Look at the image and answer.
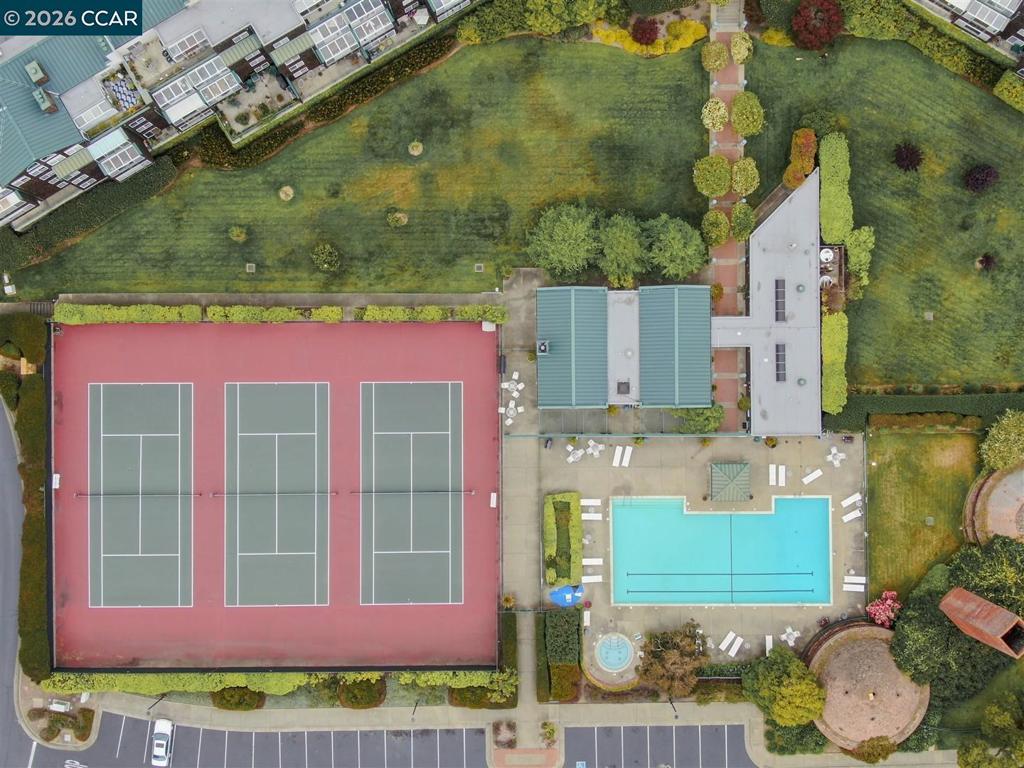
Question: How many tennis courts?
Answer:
3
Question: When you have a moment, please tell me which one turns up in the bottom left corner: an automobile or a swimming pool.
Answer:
automobile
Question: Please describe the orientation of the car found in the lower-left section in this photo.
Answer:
up and down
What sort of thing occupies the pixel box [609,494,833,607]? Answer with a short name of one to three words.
swimming pool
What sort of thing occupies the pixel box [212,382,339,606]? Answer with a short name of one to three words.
tennis court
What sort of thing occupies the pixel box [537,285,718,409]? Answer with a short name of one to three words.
building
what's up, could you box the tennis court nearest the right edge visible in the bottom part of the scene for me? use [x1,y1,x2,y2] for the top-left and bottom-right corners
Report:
[349,381,474,605]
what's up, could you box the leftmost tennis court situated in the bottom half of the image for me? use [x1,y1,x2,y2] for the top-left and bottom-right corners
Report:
[74,383,203,607]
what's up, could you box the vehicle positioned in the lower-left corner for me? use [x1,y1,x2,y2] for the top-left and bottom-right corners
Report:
[151,718,175,766]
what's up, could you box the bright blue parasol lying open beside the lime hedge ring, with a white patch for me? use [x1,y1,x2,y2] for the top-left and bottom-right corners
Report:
[550,585,584,607]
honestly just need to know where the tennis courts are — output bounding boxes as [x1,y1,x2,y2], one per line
[212,382,339,606]
[74,383,203,607]
[349,381,474,605]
